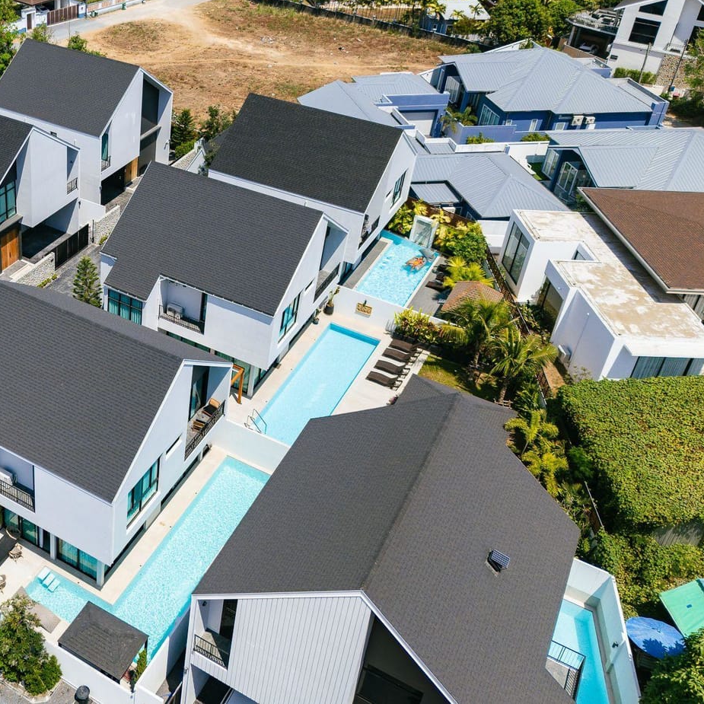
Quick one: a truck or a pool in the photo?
pool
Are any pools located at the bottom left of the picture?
Yes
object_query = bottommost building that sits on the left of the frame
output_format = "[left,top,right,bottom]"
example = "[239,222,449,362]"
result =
[54,602,153,704]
